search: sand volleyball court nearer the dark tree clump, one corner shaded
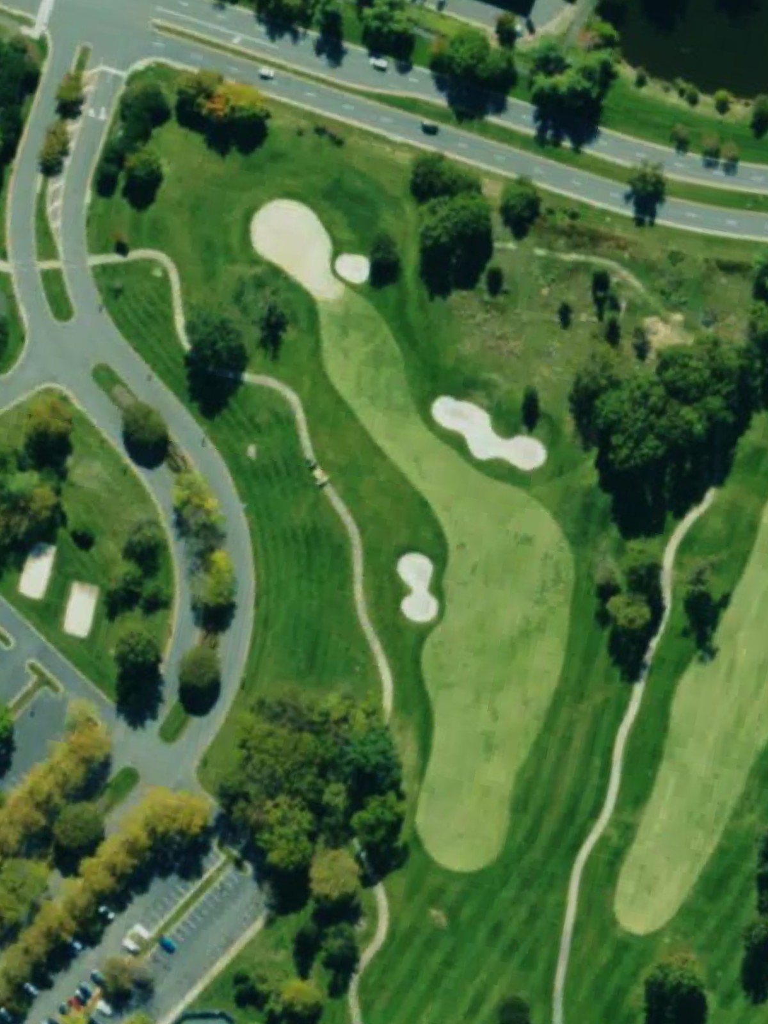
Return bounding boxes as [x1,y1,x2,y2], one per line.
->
[17,543,57,601]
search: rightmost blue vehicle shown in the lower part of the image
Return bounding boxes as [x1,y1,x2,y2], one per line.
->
[160,938,175,952]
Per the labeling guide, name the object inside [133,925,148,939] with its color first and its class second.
white car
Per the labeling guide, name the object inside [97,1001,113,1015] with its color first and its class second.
white car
